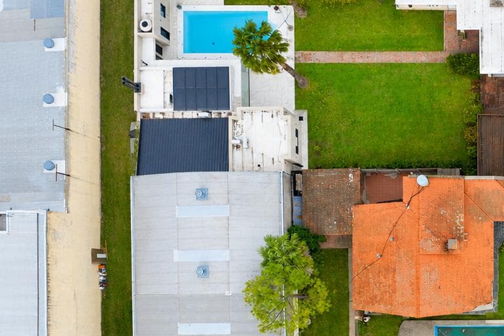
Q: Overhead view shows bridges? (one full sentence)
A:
No, the picture doesn't show any bridge.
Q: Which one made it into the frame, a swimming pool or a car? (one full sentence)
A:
There is a swimming pool in the scene.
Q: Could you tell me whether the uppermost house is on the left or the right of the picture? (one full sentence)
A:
The uppermost house is on the right side of the image.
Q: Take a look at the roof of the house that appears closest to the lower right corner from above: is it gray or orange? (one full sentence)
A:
In this view, the roof of the house that appears closest to the lower right corner is orange.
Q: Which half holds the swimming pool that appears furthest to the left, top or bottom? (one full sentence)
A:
The swimming pool that appears furthest to the left sits in the top half of the picture.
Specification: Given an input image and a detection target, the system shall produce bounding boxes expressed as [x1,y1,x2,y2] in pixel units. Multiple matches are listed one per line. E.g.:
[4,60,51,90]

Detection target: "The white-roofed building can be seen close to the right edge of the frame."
[395,0,504,84]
